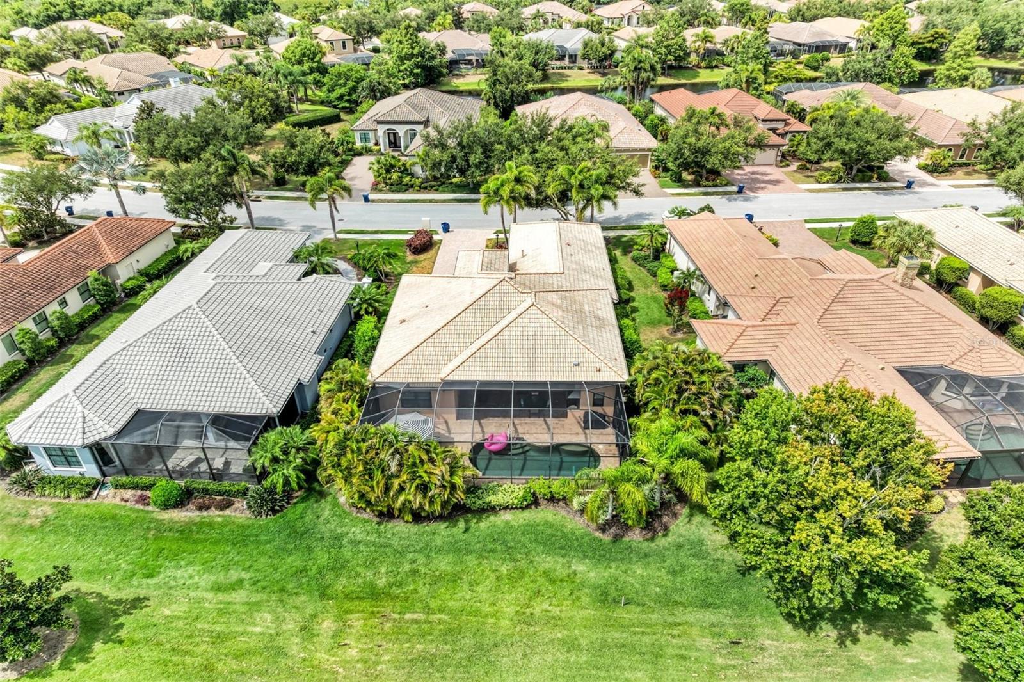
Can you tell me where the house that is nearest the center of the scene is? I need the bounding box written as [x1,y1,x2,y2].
[368,220,629,412]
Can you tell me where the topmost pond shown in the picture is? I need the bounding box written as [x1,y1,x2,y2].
[359,68,1024,108]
